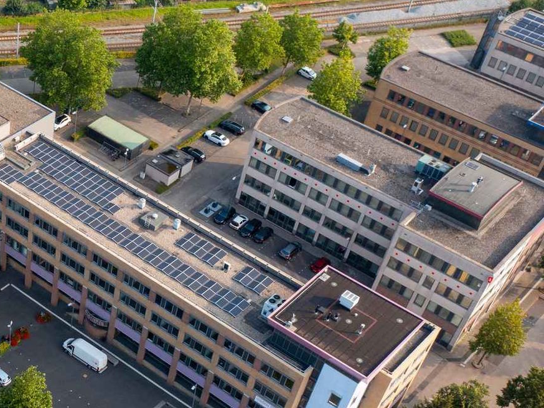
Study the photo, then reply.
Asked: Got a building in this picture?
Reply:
Yes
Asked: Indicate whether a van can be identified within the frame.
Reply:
Yes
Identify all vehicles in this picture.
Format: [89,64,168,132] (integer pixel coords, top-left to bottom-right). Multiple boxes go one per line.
[214,205,237,223]
[64,336,109,369]
[252,224,277,243]
[279,240,304,258]
[239,217,263,236]
[205,130,231,145]
[311,255,334,272]
[219,117,245,134]
[229,212,252,229]
[182,141,207,160]
[0,367,9,386]
[53,111,72,127]
[251,97,271,111]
